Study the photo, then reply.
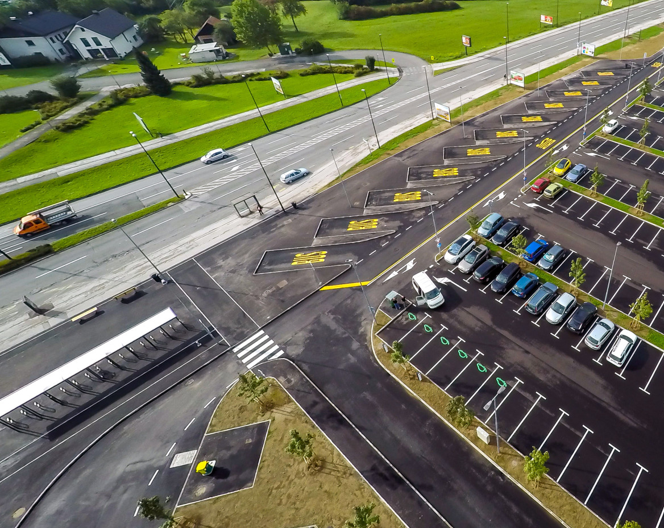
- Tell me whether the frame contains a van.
Yes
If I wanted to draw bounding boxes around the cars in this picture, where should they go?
[495,218,524,243]
[200,147,230,164]
[540,241,568,267]
[583,319,613,354]
[527,235,552,258]
[605,118,622,132]
[554,157,574,175]
[480,210,508,236]
[542,183,564,201]
[542,294,573,329]
[529,178,551,195]
[277,167,310,185]
[471,256,505,285]
[503,276,535,305]
[521,285,555,318]
[601,327,636,369]
[562,306,594,340]
[565,162,588,180]
[487,263,520,297]
[440,238,473,267]
[455,246,489,275]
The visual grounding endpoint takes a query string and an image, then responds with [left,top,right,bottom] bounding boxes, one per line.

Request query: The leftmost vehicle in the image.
[12,199,90,239]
